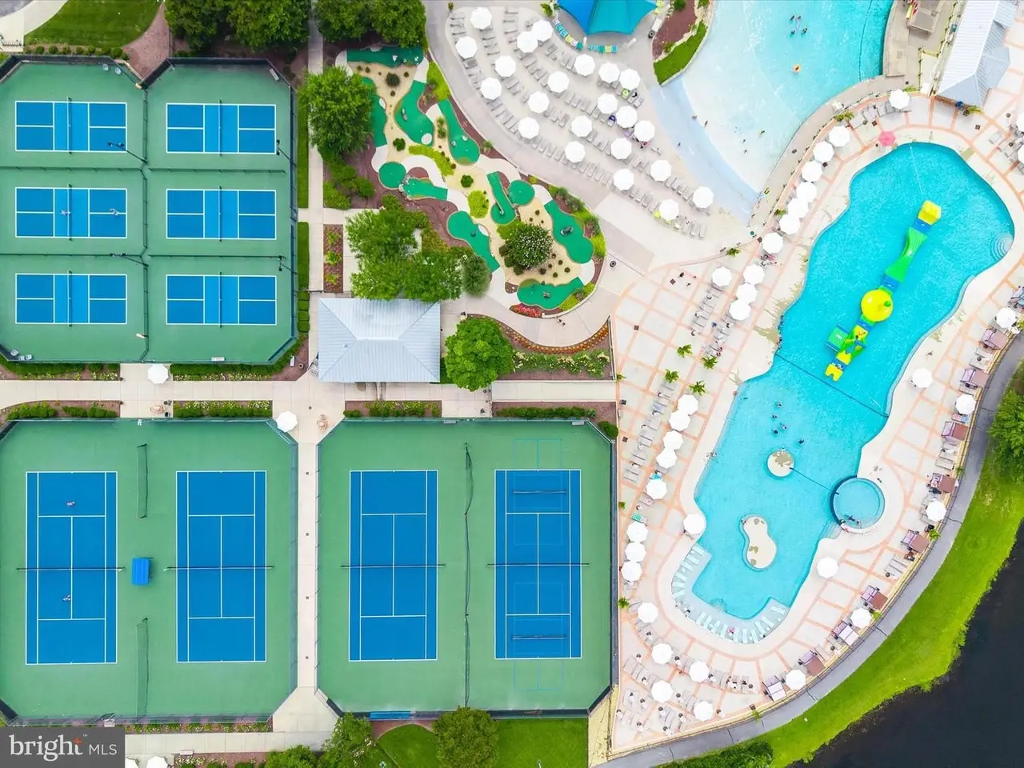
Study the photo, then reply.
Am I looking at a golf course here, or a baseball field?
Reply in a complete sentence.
The image shows a golf course.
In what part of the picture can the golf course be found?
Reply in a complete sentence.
The golf course appears toward the top of the photo.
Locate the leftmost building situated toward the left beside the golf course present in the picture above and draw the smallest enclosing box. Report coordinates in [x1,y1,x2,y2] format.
[318,298,441,382]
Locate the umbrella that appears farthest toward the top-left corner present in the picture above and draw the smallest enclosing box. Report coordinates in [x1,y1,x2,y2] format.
[149,363,171,384]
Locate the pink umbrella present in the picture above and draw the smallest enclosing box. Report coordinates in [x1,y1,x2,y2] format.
[873,130,895,148]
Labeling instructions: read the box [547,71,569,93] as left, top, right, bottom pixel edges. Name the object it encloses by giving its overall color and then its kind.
white umbrella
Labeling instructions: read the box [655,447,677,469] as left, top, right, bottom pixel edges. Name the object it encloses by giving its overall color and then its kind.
white umbrella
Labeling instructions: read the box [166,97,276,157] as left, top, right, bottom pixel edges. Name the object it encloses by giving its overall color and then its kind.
blue sports court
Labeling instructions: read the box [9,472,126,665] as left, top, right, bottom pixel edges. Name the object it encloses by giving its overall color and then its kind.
blue tennis court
